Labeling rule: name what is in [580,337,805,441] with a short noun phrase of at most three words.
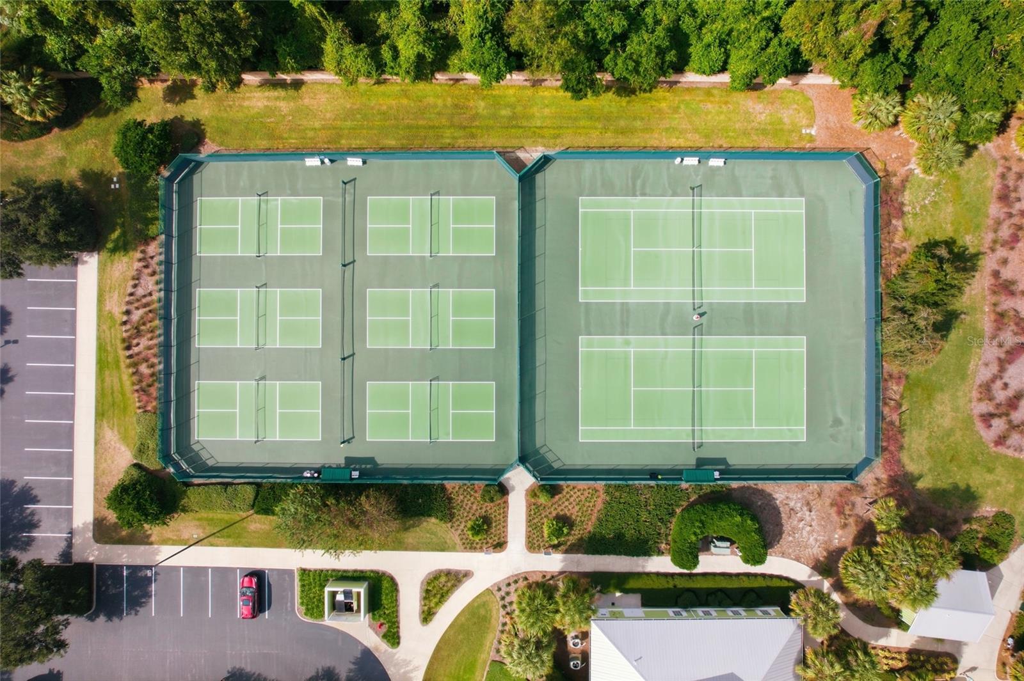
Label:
tennis court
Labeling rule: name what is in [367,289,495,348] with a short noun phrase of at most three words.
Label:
sports court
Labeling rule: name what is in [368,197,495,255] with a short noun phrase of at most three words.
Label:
sports court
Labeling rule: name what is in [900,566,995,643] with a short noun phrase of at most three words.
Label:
building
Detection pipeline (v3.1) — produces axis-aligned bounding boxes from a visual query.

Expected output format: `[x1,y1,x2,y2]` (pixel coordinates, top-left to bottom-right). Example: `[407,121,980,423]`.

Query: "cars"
[238,576,260,621]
